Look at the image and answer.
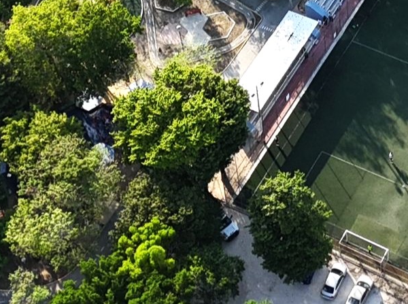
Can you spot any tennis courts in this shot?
No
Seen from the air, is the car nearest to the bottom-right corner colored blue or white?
white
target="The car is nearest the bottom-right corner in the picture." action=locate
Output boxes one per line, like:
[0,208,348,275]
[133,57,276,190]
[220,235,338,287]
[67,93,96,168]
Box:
[344,270,375,304]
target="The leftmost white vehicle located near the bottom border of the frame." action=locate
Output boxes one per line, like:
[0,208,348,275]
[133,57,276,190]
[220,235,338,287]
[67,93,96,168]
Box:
[318,256,351,299]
